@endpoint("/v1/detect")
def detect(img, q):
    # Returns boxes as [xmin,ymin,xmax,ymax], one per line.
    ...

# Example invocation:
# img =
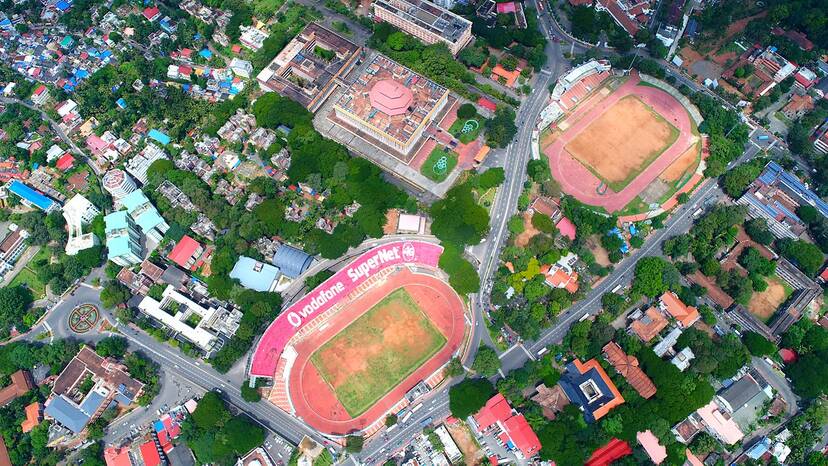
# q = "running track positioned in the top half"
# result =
[546,74,692,209]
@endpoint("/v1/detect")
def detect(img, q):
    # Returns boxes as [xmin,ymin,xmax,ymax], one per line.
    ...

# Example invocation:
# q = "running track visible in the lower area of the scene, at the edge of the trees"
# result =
[288,273,469,438]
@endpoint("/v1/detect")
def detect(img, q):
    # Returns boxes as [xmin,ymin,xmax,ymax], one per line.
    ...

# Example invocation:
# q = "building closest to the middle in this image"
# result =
[396,213,425,239]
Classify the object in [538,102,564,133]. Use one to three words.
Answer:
building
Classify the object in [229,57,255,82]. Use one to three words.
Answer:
house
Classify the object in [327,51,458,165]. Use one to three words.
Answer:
building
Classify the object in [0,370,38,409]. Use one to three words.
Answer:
house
